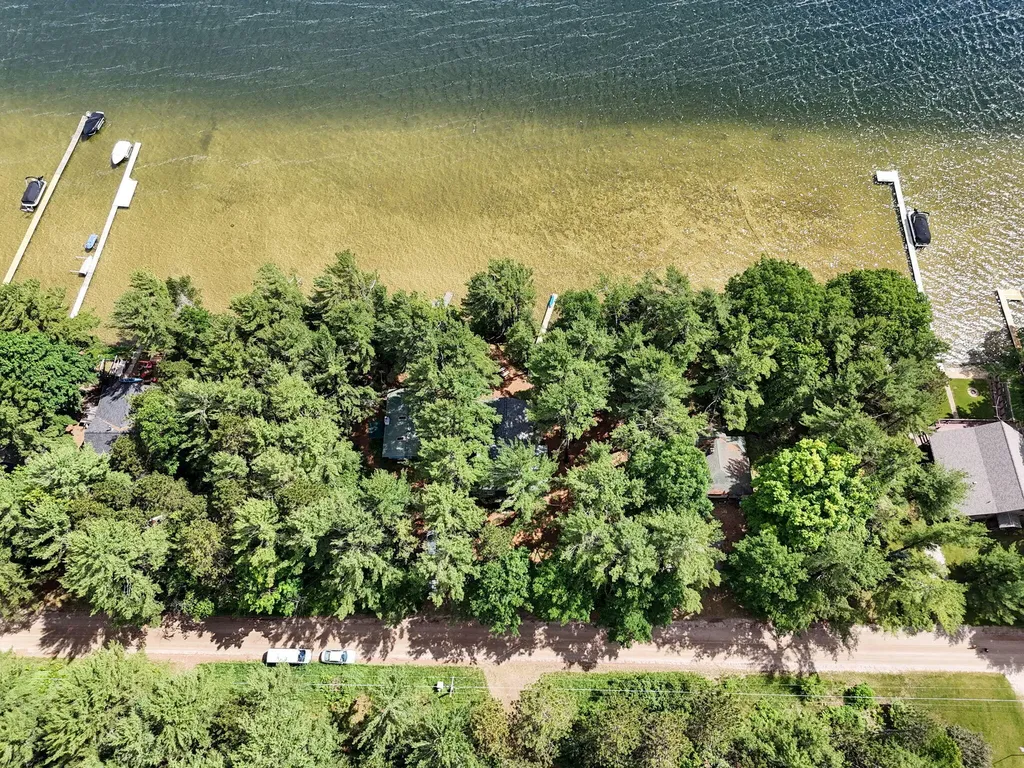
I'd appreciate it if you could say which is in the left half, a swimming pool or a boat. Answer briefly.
boat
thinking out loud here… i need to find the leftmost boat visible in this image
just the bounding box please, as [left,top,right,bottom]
[21,174,50,211]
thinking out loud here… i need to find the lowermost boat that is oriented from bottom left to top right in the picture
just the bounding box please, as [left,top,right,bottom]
[86,234,99,250]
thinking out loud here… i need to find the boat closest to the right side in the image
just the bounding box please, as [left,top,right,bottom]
[908,206,931,249]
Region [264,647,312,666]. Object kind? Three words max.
vehicle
